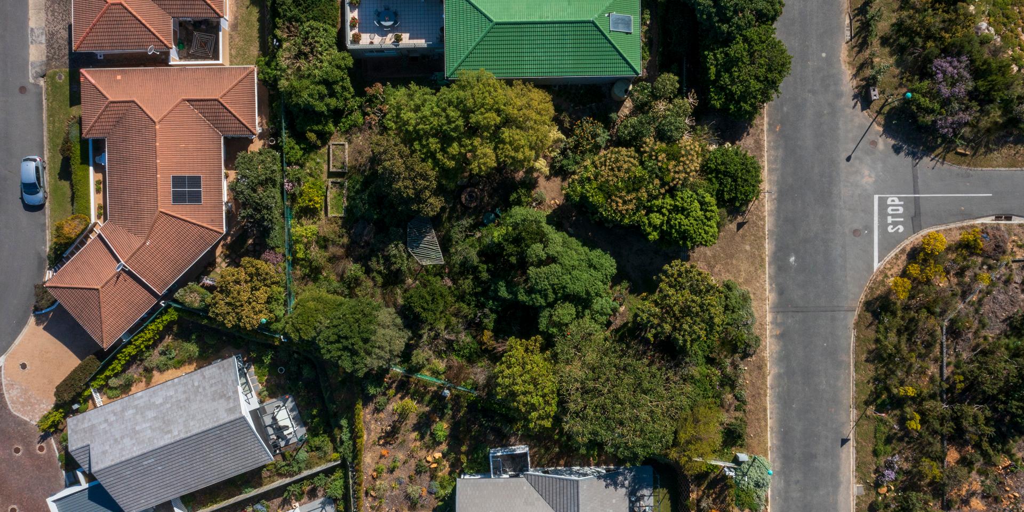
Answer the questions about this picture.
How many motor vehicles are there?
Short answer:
1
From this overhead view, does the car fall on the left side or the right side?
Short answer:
left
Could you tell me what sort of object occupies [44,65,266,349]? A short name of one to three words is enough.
house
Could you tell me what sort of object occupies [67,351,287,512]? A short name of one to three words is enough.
house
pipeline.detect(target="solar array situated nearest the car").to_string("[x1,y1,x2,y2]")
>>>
[169,174,204,205]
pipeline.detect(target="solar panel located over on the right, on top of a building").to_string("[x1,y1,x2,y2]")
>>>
[614,10,636,33]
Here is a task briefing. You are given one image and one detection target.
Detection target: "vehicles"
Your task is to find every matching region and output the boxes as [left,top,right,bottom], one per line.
[19,156,50,206]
